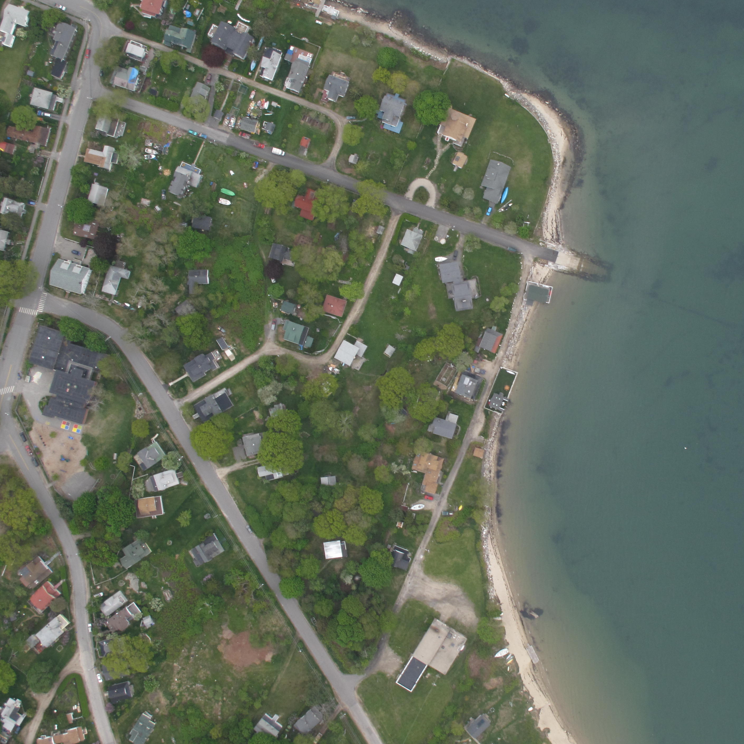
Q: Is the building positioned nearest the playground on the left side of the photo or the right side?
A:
left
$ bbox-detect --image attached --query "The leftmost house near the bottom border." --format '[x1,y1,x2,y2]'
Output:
[0,695,26,742]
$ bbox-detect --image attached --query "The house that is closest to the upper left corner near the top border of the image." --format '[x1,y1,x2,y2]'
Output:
[0,5,34,49]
